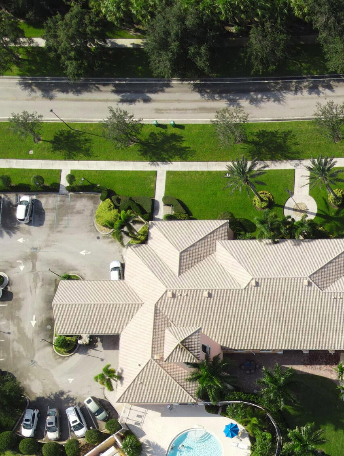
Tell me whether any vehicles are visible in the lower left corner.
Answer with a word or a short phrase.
Yes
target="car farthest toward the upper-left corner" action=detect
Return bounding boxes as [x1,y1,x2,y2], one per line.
[17,198,34,223]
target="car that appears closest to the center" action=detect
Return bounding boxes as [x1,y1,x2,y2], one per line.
[109,257,125,280]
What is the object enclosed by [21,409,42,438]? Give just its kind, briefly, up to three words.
car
